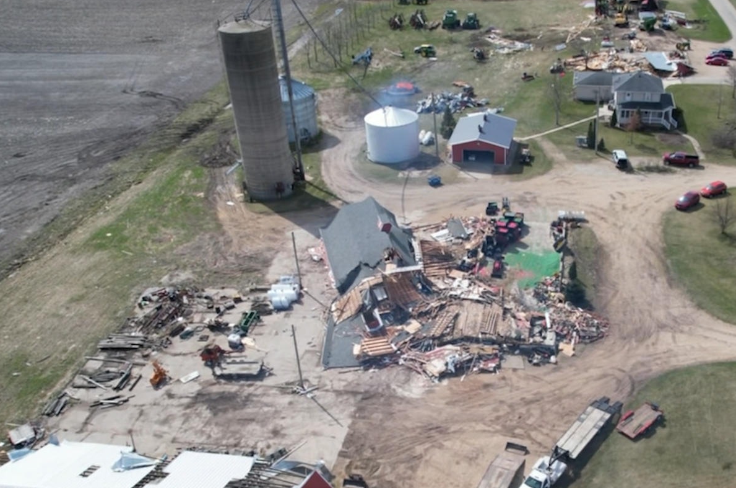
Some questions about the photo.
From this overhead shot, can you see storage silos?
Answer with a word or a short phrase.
Yes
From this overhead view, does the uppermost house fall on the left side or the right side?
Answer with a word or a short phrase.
right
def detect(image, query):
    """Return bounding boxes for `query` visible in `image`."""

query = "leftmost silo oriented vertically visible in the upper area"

[214,12,294,198]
